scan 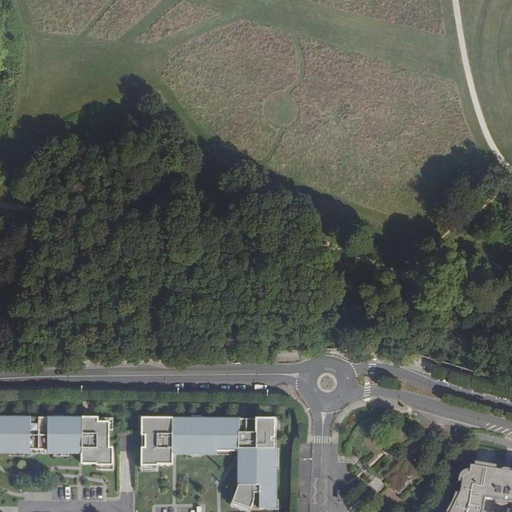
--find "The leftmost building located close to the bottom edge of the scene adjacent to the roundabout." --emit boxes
[140,416,280,512]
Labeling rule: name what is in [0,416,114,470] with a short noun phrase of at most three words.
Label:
building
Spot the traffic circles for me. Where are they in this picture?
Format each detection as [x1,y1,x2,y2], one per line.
[292,356,380,430]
